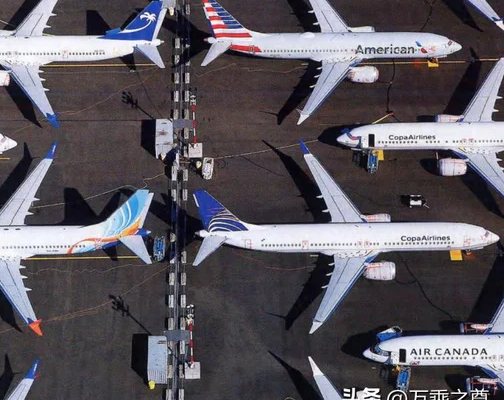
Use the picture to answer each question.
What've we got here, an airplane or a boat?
airplane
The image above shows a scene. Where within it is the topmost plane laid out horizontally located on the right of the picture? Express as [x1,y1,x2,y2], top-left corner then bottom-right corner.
[198,0,462,125]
